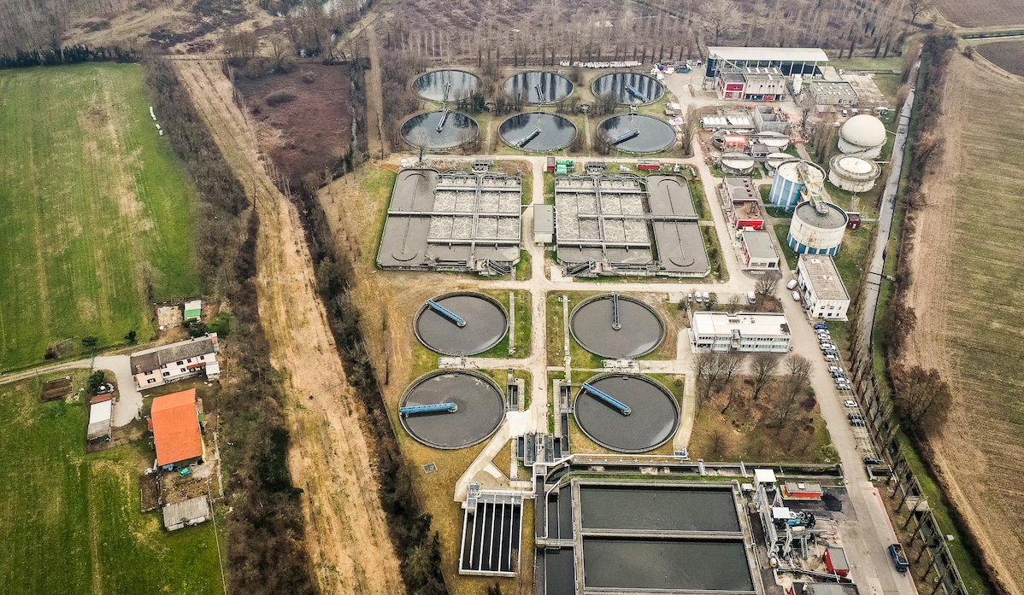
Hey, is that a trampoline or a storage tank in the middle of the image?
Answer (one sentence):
Looking in the middle of the image, you will find a storage tank.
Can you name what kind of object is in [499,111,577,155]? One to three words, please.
storage tank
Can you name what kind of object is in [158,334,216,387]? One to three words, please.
house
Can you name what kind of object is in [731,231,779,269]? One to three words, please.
building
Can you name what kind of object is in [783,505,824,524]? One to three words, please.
vehicle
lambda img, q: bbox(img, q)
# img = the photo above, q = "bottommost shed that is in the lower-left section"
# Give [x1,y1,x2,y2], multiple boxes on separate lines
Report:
[164,496,210,535]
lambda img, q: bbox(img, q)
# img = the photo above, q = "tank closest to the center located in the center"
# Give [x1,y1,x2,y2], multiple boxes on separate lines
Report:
[413,291,509,362]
